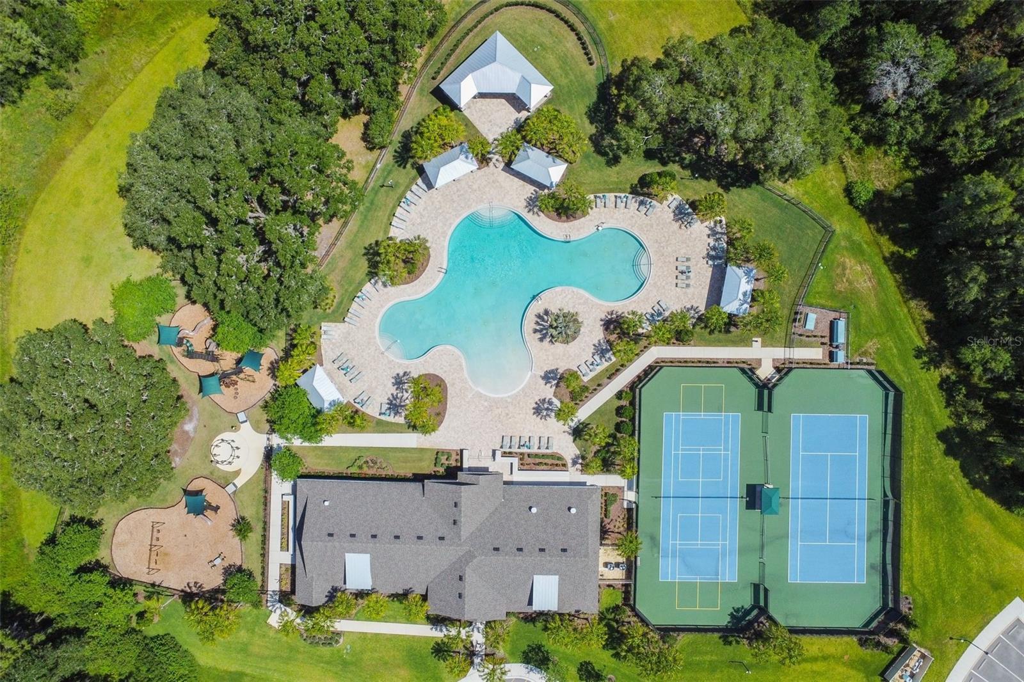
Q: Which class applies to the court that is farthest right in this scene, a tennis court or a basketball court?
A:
tennis court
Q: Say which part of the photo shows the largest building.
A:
bottom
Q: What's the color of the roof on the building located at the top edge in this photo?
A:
white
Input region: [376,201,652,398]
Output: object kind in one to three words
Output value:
swimming pool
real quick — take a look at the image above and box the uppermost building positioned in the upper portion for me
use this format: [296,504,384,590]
[439,30,554,112]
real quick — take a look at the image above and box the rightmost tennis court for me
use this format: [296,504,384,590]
[764,368,893,628]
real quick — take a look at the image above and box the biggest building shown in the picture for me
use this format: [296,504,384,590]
[295,469,604,623]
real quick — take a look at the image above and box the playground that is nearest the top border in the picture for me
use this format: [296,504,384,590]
[168,302,279,414]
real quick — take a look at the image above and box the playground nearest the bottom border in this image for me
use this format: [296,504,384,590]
[110,476,243,592]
